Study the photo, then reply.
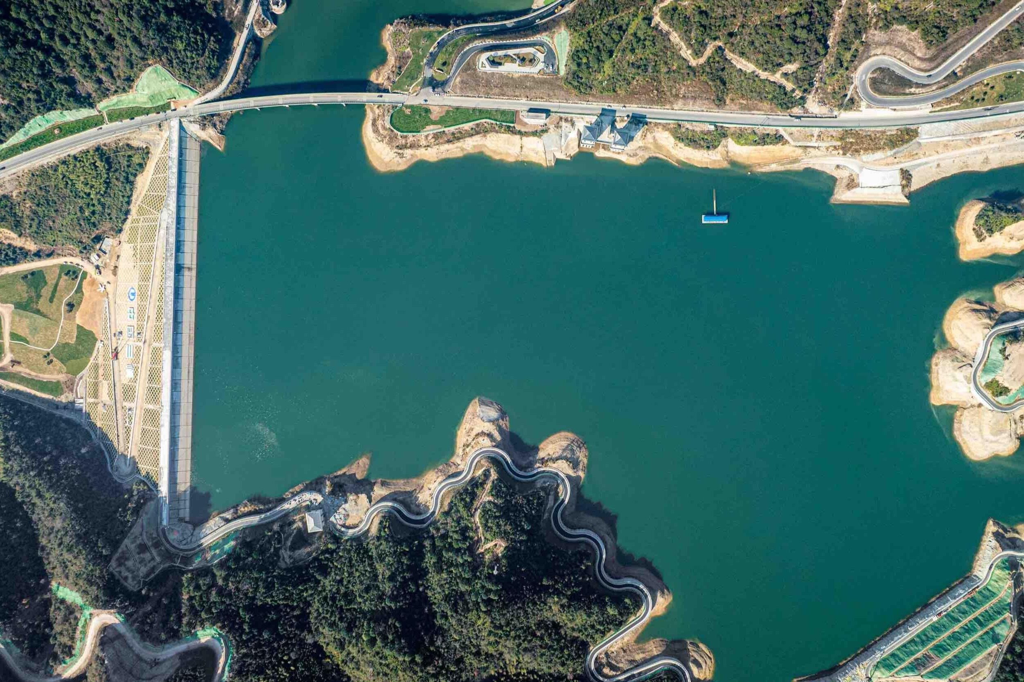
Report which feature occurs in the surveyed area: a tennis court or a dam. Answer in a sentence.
Visible in the photo is a dam.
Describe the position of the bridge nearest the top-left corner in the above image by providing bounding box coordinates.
[188,92,409,115]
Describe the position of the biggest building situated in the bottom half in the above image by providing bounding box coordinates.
[306,509,324,532]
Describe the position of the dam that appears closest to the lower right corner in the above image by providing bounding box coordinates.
[796,551,1024,682]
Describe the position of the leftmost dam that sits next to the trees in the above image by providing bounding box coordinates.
[75,120,202,523]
